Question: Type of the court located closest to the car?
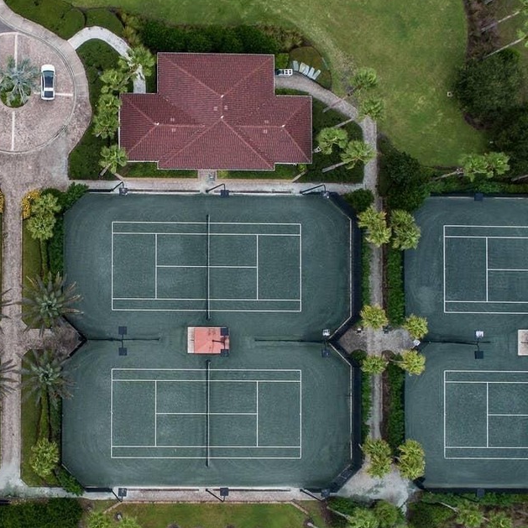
tennis court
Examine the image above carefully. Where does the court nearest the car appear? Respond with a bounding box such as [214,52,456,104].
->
[64,192,352,340]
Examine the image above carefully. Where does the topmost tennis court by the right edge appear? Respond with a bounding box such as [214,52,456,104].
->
[402,196,528,341]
